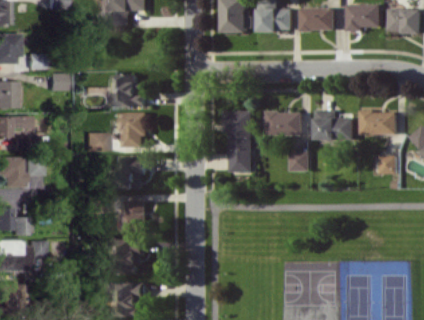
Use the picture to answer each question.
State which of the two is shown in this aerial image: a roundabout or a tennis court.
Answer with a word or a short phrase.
tennis court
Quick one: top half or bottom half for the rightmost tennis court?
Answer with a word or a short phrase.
bottom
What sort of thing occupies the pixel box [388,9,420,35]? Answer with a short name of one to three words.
house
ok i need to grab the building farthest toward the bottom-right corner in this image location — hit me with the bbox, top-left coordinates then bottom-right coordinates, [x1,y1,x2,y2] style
[373,156,398,175]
